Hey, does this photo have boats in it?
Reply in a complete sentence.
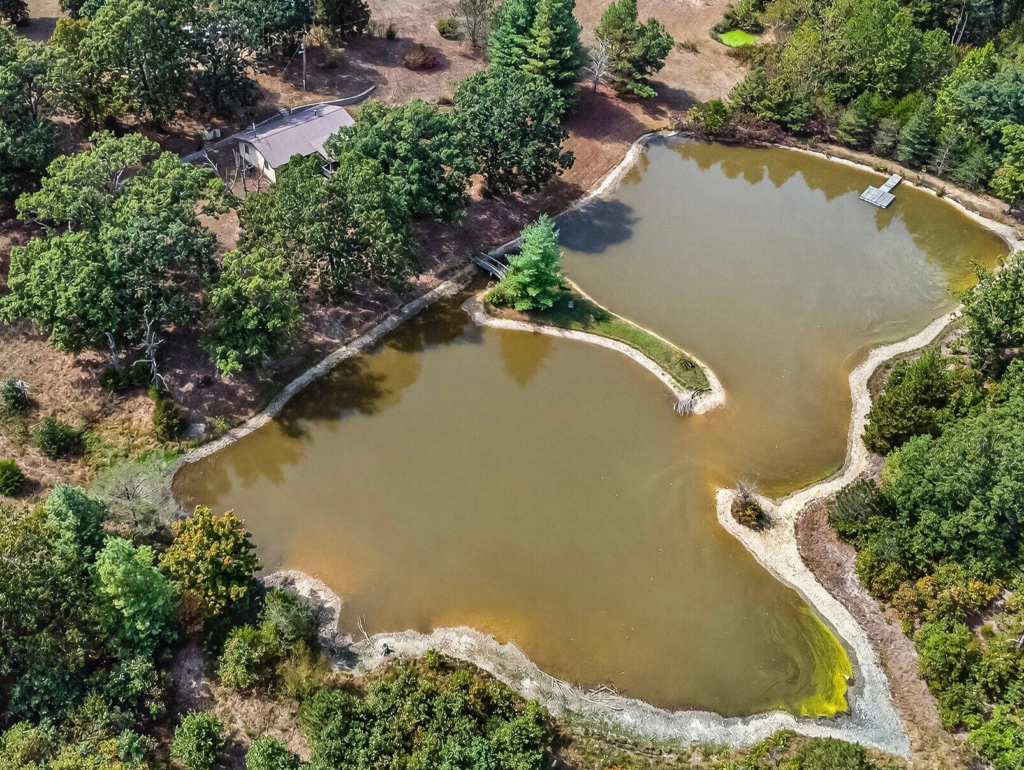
No, there's no boat here.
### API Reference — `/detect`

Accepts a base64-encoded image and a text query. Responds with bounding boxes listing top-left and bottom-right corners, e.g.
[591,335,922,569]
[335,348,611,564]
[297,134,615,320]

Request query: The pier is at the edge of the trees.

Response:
[858,172,903,210]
